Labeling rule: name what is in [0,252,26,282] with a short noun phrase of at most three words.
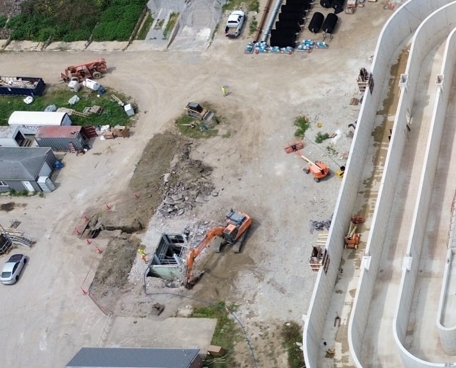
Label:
car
